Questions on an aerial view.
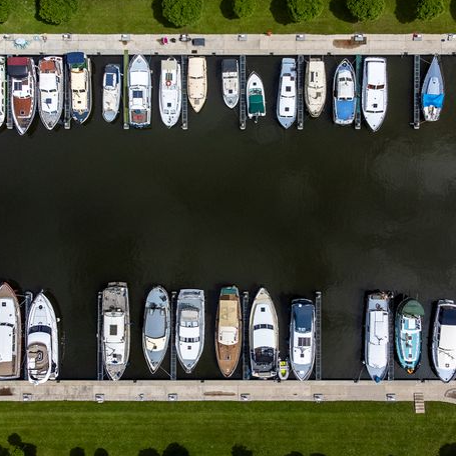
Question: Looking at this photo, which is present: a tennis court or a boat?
boat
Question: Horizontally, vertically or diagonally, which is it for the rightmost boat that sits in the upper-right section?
vertically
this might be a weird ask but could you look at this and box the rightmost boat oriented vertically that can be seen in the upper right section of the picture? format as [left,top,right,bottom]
[416,52,444,123]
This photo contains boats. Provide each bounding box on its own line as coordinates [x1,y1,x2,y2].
[428,298,456,383]
[274,55,298,127]
[359,52,389,132]
[279,358,289,379]
[247,288,281,383]
[214,286,244,383]
[102,283,133,382]
[288,298,317,383]
[37,55,66,129]
[142,285,178,383]
[7,53,39,133]
[0,283,25,383]
[416,52,444,123]
[0,53,10,128]
[175,289,206,383]
[69,52,94,122]
[158,53,184,127]
[391,297,424,379]
[219,56,241,106]
[127,53,155,128]
[186,57,209,111]
[101,53,124,121]
[330,53,358,126]
[24,292,63,386]
[356,293,392,383]
[302,51,328,117]
[247,52,265,122]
